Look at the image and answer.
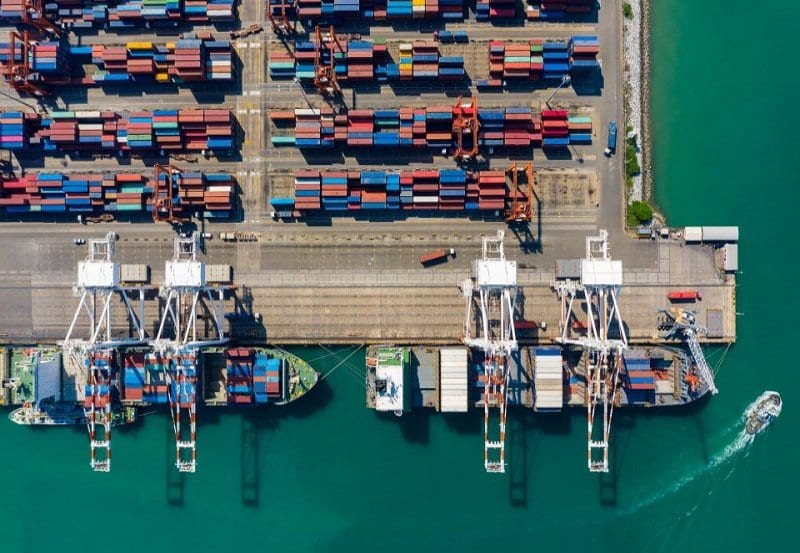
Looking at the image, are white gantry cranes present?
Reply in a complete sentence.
Yes, you can see a white gantry crane in this photo.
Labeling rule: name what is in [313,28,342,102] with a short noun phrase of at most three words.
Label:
crane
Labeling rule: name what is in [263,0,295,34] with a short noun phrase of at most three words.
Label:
crane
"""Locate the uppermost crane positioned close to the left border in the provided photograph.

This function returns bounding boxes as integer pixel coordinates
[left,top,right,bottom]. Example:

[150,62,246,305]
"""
[22,0,71,34]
